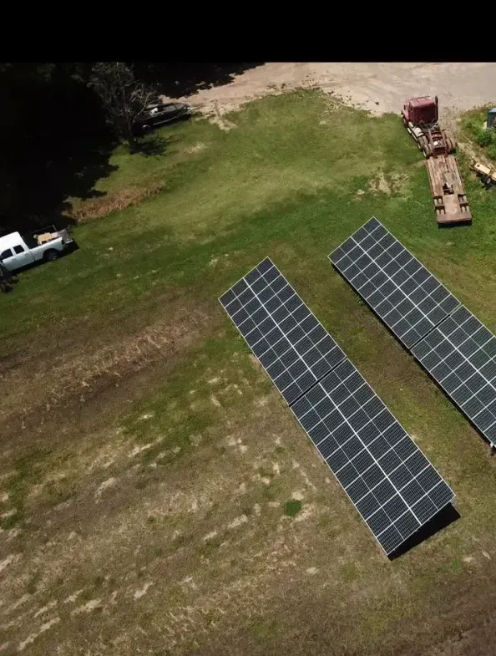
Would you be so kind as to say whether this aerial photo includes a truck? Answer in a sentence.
Yes, there's a truck down there.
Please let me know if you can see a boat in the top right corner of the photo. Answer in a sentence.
No, I can find no boat in the top right corner of the photo.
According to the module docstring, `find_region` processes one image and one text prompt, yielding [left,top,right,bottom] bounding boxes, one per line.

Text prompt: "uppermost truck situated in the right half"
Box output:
[407,98,452,159]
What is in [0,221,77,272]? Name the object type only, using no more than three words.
truck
